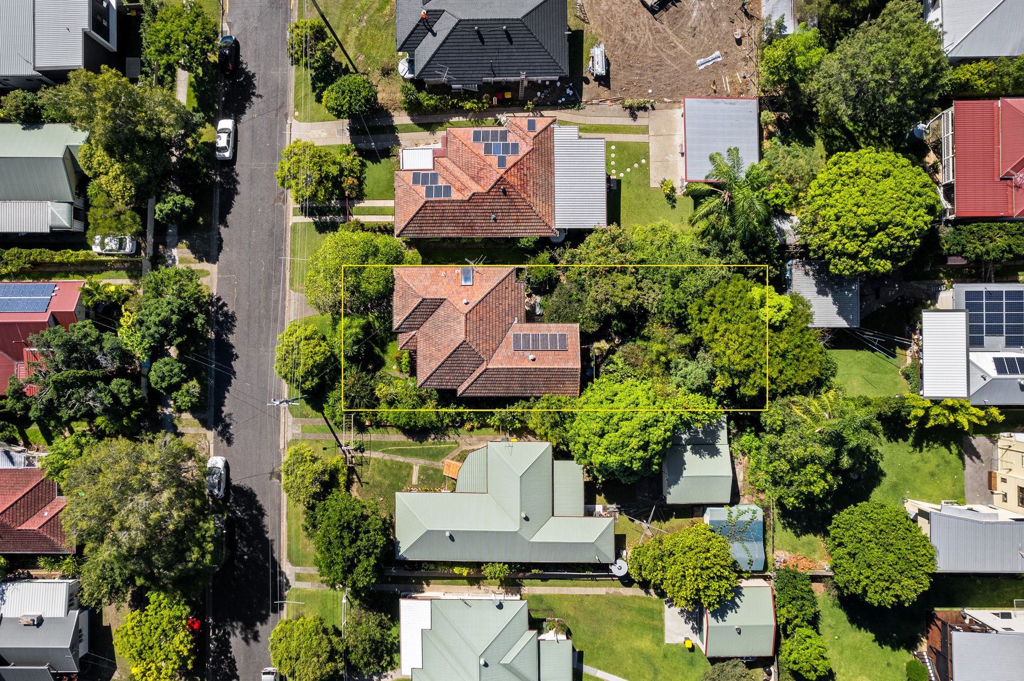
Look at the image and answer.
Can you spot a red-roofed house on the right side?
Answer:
Yes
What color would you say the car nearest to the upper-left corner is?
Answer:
black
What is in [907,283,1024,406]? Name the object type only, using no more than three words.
house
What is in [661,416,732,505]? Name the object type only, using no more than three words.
building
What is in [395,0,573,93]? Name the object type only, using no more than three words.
house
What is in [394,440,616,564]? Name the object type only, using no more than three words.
building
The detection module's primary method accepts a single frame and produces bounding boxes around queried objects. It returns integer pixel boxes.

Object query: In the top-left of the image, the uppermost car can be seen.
[217,35,239,75]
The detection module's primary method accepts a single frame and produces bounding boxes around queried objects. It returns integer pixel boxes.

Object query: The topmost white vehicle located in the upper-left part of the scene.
[214,120,235,160]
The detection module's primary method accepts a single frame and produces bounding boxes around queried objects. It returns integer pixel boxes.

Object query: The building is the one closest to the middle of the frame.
[392,264,580,398]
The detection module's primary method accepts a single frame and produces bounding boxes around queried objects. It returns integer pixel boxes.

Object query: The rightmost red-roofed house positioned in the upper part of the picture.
[930,97,1024,221]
